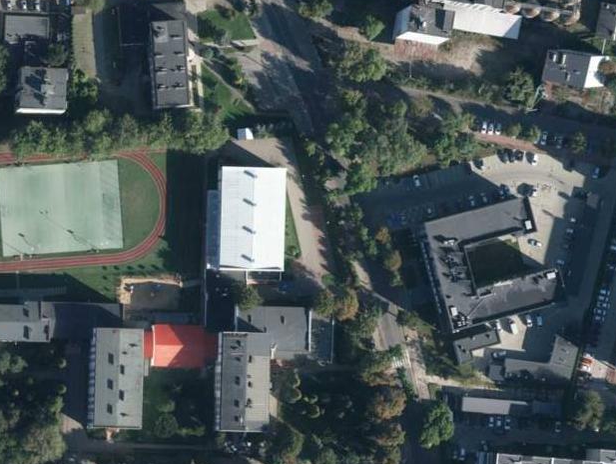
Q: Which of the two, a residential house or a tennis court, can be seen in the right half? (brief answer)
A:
residential house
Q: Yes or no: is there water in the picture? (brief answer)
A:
No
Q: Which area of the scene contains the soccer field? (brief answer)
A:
left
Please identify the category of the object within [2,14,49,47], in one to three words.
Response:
building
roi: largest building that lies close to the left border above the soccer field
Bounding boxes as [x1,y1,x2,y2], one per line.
[14,67,68,114]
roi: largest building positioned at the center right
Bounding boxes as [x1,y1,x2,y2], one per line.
[419,198,565,333]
